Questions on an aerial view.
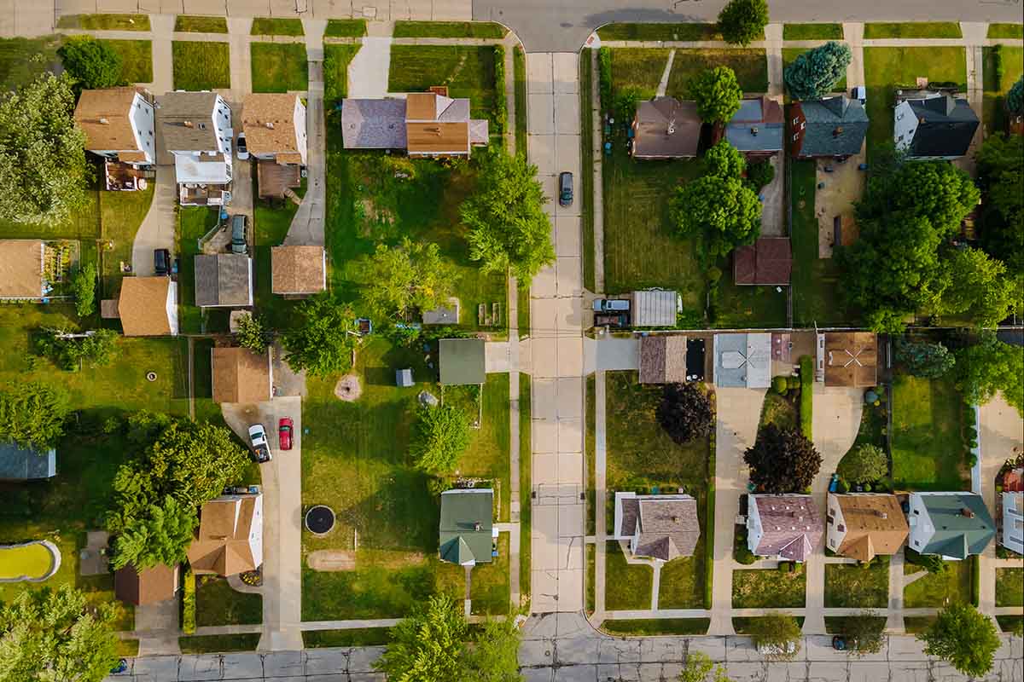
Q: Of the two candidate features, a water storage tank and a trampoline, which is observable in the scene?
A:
trampoline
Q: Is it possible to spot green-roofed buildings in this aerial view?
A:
Yes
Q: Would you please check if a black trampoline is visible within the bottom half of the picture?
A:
Yes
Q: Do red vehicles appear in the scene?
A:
Yes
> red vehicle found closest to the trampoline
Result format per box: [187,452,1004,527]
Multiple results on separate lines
[277,416,294,450]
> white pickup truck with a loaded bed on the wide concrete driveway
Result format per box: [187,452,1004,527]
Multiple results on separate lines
[249,424,272,463]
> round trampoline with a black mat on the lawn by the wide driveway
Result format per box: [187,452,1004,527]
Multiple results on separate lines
[305,504,336,535]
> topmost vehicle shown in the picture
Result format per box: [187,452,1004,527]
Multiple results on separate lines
[850,78,869,109]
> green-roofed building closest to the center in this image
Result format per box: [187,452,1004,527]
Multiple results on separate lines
[439,339,485,383]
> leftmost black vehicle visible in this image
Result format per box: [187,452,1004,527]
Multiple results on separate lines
[153,248,172,276]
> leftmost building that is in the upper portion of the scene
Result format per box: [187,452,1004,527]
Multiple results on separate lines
[0,239,54,300]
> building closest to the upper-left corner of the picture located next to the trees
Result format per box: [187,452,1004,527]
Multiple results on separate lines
[73,88,157,166]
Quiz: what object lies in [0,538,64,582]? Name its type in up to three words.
swimming pool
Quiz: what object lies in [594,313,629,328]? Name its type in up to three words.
car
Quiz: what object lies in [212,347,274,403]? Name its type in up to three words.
building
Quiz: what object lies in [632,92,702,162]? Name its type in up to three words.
house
